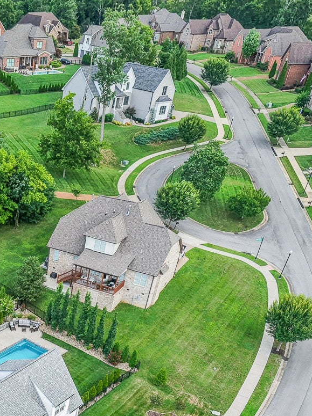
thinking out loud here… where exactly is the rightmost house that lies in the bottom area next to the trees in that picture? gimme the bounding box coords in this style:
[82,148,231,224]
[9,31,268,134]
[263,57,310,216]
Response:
[46,196,181,311]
